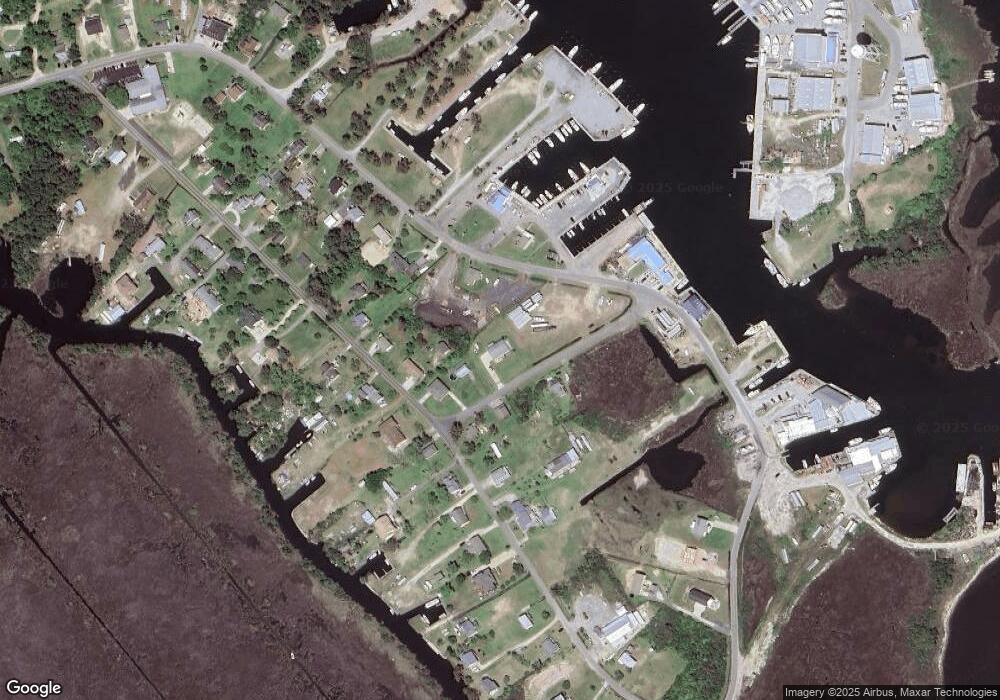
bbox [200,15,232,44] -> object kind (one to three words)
building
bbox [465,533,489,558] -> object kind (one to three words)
house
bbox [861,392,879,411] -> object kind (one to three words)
boat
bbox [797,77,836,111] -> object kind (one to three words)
shed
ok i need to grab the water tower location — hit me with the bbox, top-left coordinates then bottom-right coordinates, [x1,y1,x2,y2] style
[853,42,887,65]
